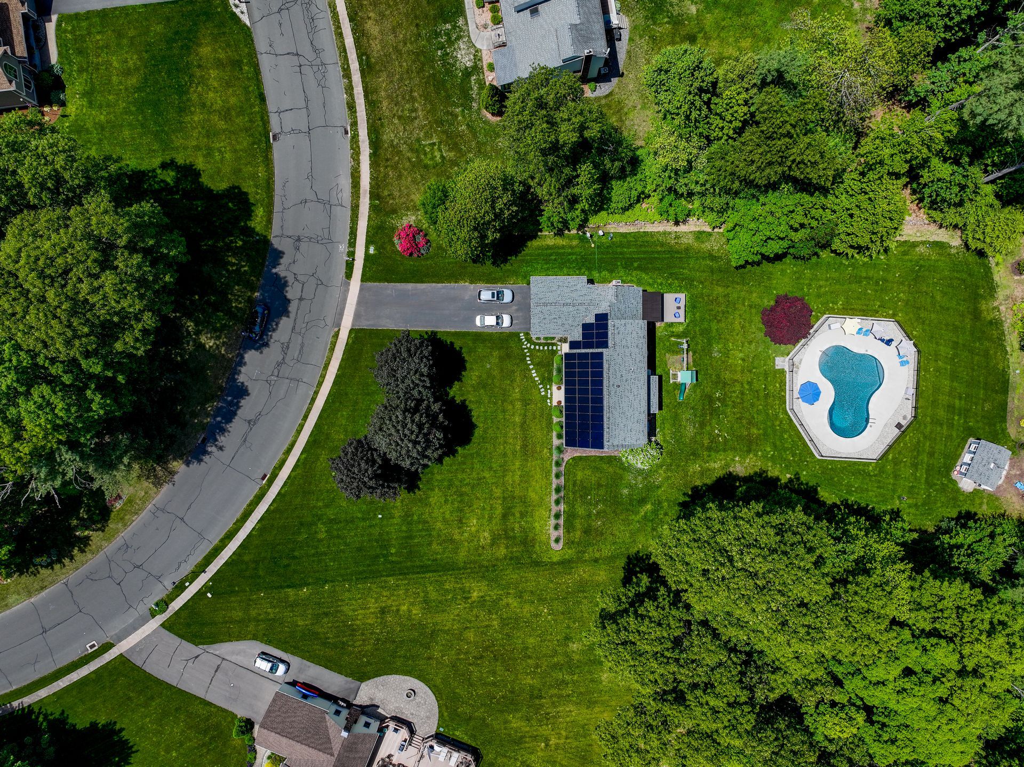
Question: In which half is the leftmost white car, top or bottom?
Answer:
bottom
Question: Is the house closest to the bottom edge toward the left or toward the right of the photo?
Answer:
left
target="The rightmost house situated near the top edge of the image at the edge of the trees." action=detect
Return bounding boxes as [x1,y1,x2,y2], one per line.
[491,0,627,92]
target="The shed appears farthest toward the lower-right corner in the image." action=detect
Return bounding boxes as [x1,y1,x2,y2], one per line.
[957,440,1012,492]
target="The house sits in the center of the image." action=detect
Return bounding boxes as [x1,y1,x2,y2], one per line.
[530,276,658,451]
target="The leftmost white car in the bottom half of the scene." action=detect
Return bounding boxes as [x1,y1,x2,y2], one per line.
[252,653,290,678]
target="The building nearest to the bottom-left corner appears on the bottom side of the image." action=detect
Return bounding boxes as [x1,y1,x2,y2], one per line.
[254,684,381,767]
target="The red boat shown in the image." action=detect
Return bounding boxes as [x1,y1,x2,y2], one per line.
[296,682,319,695]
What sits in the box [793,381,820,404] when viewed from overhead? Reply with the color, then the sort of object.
blue umbrella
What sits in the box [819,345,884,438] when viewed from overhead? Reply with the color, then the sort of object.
blue swimming pool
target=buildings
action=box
[491,0,627,92]
[530,276,658,451]
[957,440,1012,492]
[254,684,381,767]
[0,0,52,108]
